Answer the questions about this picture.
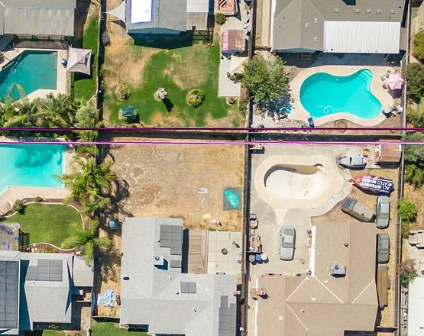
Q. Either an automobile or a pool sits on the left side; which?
pool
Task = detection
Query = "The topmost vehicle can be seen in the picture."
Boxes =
[336,151,366,168]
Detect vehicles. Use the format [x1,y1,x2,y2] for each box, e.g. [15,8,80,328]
[279,225,296,261]
[374,196,392,230]
[338,196,377,222]
[377,234,392,264]
[336,151,366,168]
